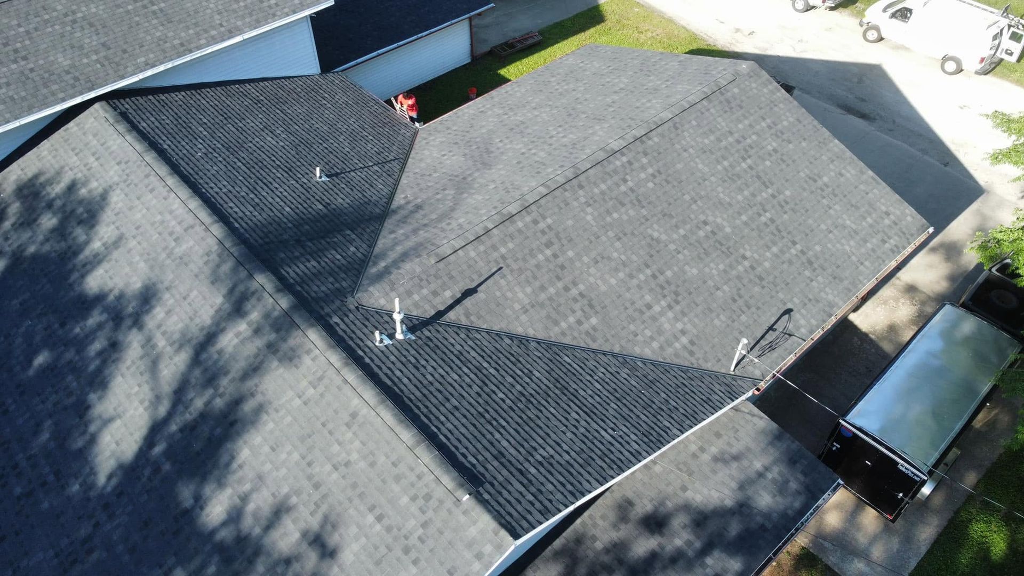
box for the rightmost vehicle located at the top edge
[856,0,1024,79]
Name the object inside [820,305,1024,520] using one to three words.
trailer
